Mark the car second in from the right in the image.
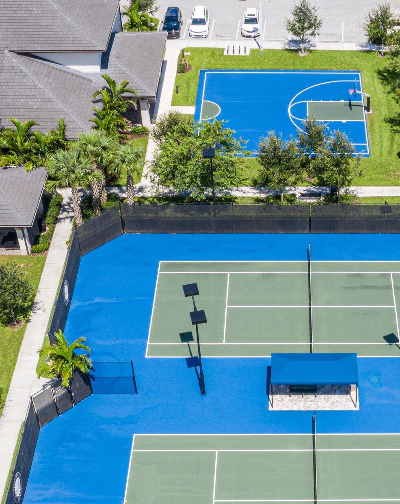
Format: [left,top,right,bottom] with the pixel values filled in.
[187,2,210,34]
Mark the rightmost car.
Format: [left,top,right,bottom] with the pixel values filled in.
[239,10,260,34]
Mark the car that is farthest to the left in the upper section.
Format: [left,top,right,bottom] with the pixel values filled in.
[160,5,181,34]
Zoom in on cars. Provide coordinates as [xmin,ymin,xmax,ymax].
[160,5,181,34]
[187,2,210,34]
[239,10,260,34]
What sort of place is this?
sports ground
